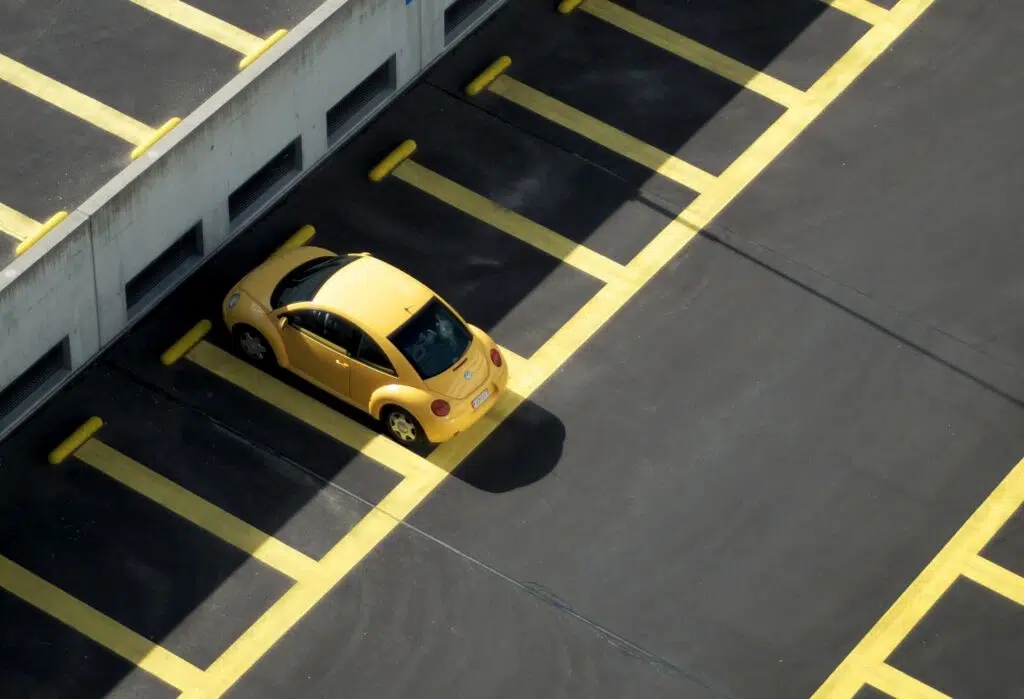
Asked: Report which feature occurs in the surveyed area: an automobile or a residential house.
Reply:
automobile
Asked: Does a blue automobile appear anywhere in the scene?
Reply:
No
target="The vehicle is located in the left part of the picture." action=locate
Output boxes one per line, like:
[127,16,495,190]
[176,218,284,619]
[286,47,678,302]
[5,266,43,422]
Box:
[224,244,508,445]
